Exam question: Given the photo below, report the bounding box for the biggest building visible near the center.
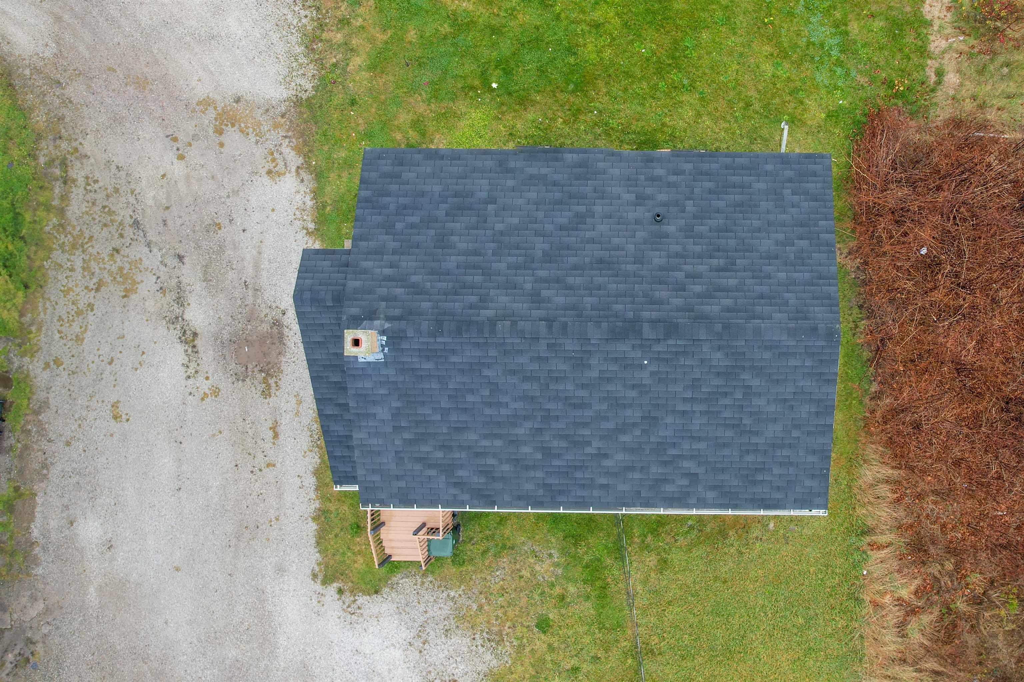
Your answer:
[293,144,842,516]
